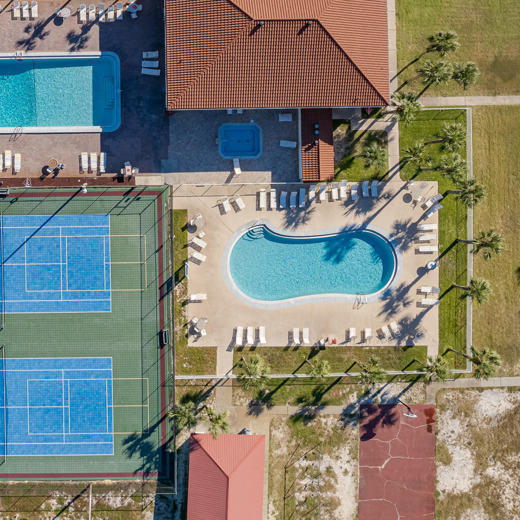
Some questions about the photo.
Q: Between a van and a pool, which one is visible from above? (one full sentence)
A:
The image shows a pool.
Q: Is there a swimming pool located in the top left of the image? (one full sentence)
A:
Yes, a swimming pool shows up in the top left of the image.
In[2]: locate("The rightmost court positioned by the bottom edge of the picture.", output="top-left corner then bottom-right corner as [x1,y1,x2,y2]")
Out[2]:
[358,405,436,520]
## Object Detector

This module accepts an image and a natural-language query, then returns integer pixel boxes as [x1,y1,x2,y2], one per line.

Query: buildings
[165,0,392,110]
[184,423,265,520]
